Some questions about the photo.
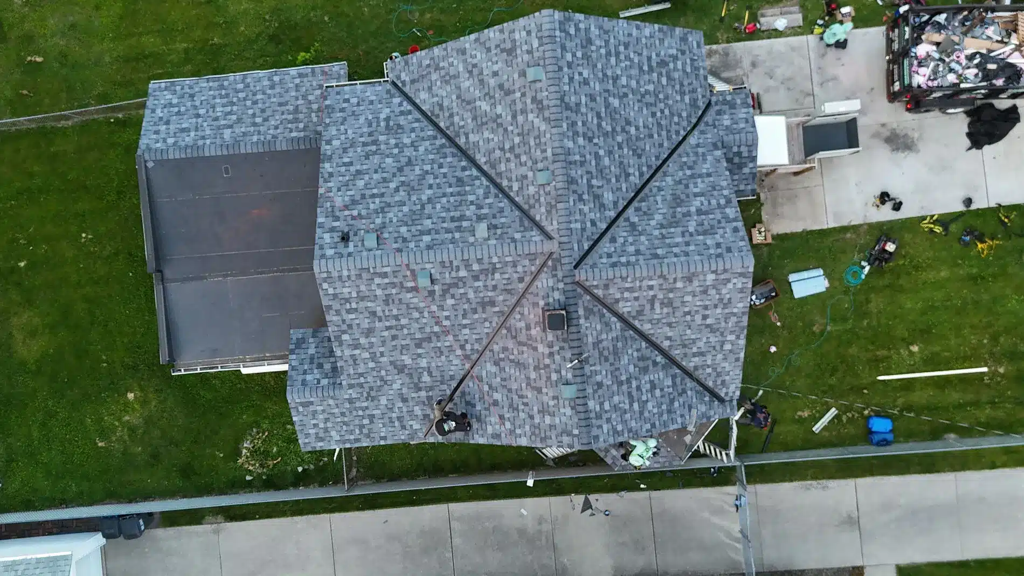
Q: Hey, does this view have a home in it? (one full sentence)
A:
Yes, the frame does contain a home.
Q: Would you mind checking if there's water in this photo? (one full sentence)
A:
No, the scene doesn't show any water.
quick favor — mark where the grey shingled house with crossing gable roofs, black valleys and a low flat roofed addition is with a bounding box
[138,7,758,472]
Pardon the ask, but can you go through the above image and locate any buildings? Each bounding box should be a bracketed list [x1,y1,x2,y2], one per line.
[0,531,117,576]
[138,7,758,472]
